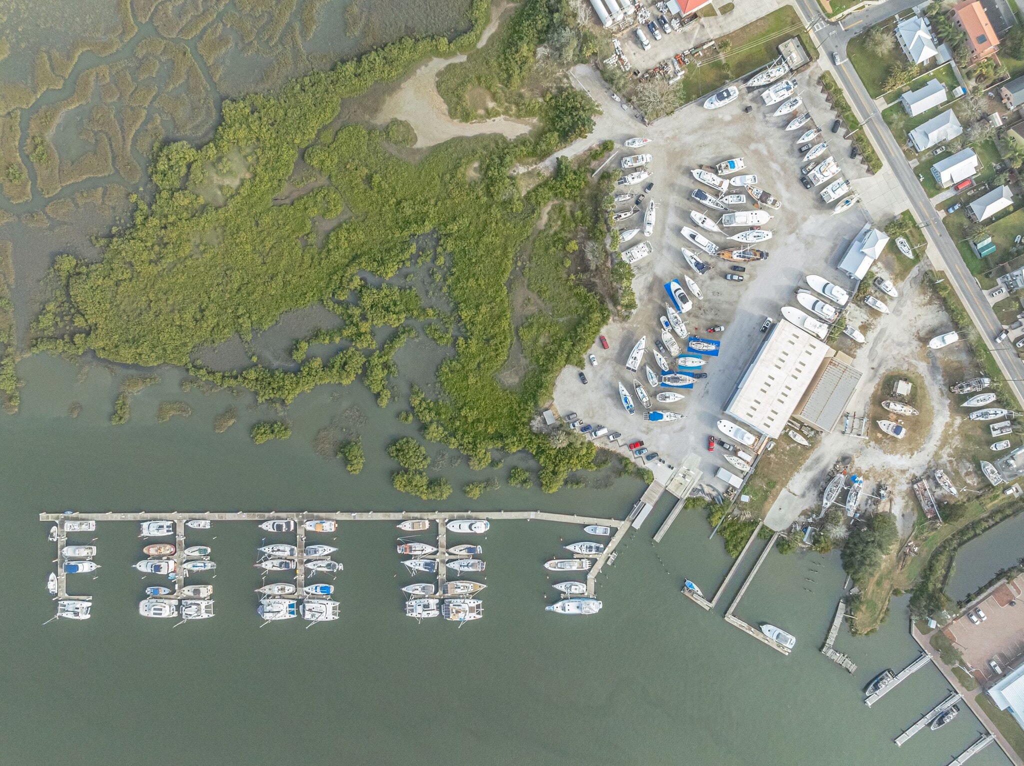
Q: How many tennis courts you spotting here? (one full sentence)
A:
The picture shows no tennis courts.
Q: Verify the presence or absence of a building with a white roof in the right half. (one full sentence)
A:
Yes, a building with a white roof appears in the right half.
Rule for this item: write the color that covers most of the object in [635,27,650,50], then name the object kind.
white vehicle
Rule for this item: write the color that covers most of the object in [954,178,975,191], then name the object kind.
red vehicle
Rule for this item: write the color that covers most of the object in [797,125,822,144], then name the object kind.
white boat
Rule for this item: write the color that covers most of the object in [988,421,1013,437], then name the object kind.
white ship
